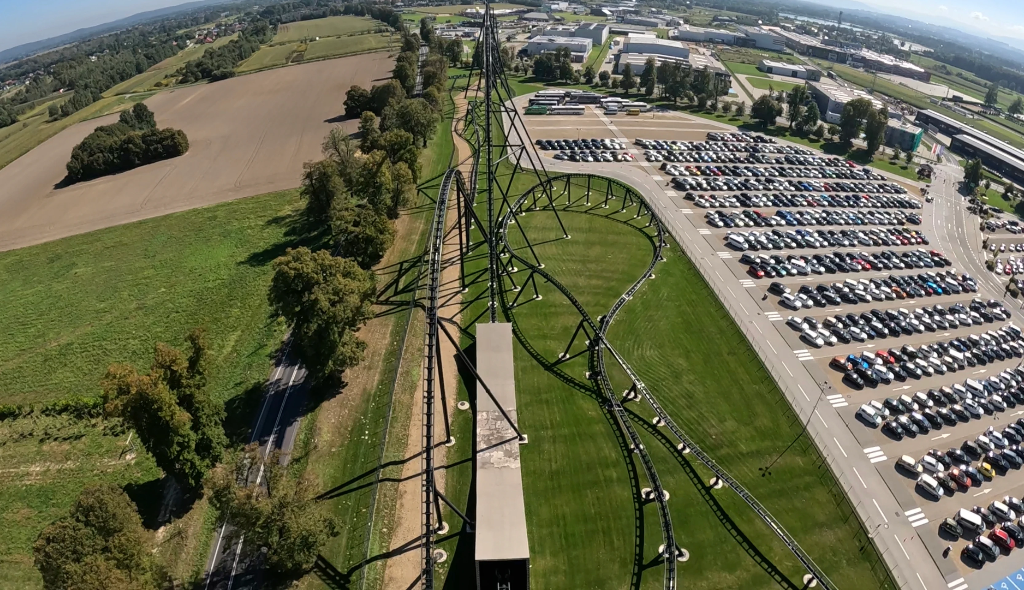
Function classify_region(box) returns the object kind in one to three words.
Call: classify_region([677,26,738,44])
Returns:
building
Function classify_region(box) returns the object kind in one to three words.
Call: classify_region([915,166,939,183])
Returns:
gazebo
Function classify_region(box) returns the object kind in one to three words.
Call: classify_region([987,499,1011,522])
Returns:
car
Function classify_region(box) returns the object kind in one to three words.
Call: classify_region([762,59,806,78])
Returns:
shed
